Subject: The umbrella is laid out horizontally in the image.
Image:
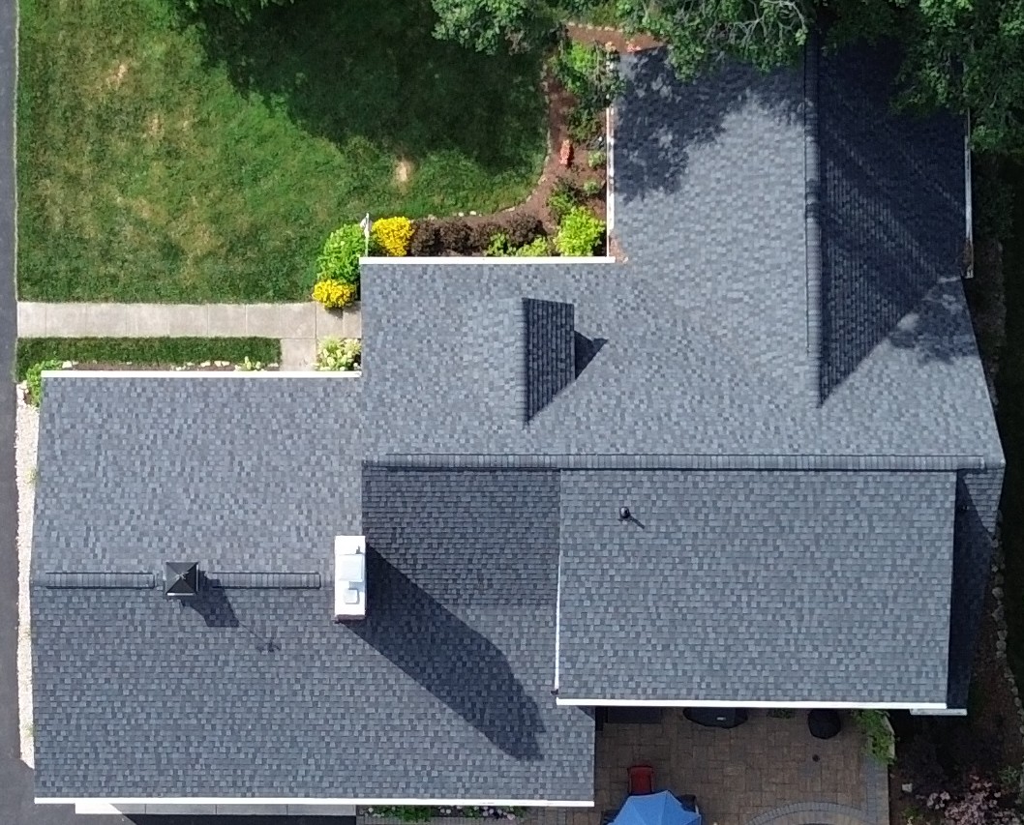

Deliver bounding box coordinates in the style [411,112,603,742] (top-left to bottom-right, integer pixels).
[614,789,701,825]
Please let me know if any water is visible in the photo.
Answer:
No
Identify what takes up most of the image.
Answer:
buildings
